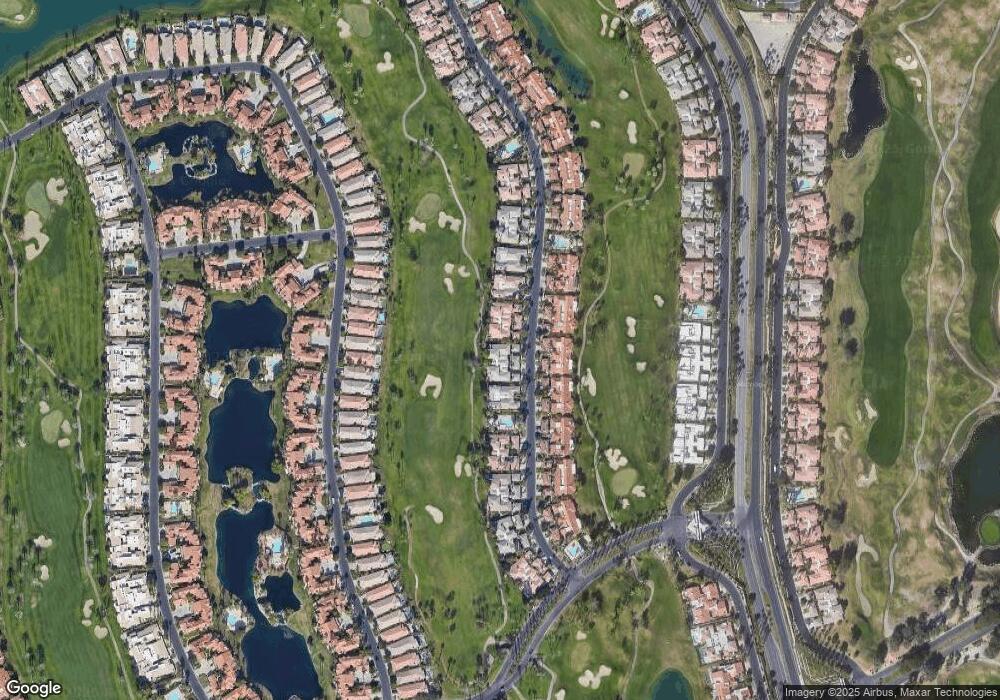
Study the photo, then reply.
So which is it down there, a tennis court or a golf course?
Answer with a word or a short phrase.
golf course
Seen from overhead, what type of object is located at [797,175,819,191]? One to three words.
swimming pool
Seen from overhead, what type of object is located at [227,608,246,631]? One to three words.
swimming pool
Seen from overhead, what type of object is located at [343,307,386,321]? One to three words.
house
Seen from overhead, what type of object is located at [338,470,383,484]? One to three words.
house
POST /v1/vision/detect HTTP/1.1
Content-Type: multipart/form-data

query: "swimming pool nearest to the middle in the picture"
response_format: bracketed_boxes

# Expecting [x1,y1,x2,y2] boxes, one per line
[497,414,515,430]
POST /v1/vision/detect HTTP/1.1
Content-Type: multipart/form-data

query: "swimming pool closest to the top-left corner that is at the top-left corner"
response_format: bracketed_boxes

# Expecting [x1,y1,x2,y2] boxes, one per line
[117,32,145,52]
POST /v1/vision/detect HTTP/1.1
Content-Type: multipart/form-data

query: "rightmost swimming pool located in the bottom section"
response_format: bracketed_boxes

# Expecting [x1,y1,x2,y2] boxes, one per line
[787,486,818,504]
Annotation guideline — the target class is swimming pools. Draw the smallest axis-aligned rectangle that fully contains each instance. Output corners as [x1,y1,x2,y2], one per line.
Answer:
[227,608,246,631]
[122,253,138,275]
[787,486,818,504]
[628,0,657,26]
[163,501,191,516]
[562,540,584,560]
[550,234,576,250]
[683,305,711,318]
[205,371,224,397]
[464,0,485,11]
[351,514,382,526]
[149,145,167,173]
[161,683,186,700]
[235,141,252,169]
[502,139,521,157]
[317,108,342,126]
[497,414,515,430]
[117,32,145,52]
[797,175,819,191]
[265,354,282,380]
